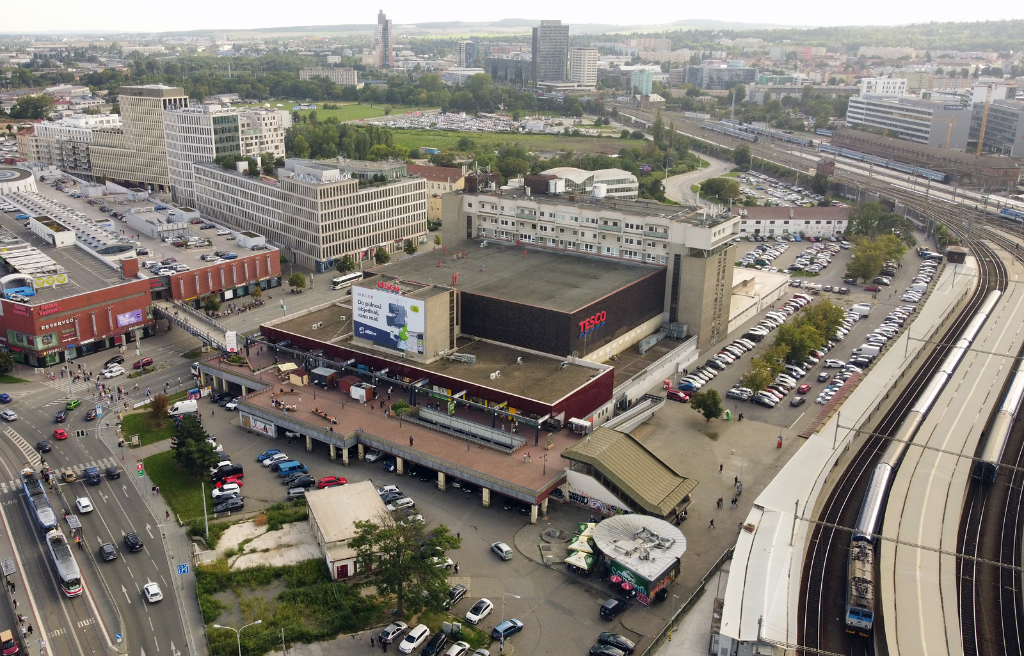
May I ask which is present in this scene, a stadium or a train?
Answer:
train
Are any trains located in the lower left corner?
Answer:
Yes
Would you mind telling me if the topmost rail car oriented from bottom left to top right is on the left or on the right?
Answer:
right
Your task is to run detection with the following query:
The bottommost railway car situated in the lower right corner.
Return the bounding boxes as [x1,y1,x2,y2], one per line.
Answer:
[845,536,874,649]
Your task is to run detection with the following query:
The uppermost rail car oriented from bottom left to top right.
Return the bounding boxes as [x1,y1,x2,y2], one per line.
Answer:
[960,291,1003,347]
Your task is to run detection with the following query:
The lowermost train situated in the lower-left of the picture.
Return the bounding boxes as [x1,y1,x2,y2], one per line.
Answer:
[44,526,88,611]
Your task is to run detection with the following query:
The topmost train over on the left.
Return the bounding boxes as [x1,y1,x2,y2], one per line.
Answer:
[19,463,56,543]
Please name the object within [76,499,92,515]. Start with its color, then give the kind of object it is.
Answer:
white car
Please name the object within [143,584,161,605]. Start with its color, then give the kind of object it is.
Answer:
white car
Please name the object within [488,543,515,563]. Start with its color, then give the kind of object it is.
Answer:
gray car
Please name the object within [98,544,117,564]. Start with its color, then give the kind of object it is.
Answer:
gray car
